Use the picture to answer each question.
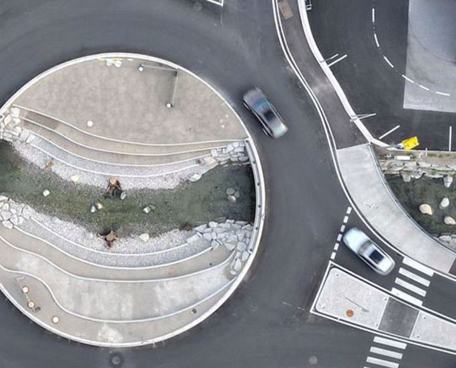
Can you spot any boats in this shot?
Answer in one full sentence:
No, the picture doesn't show any boat.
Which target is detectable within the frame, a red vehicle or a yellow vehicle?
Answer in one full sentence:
The one in the frame is a yellow vehicle.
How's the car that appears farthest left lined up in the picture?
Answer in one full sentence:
The car that appears farthest left is oriented diagonally.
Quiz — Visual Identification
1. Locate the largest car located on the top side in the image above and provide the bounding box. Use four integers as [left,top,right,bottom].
[244,89,286,137]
